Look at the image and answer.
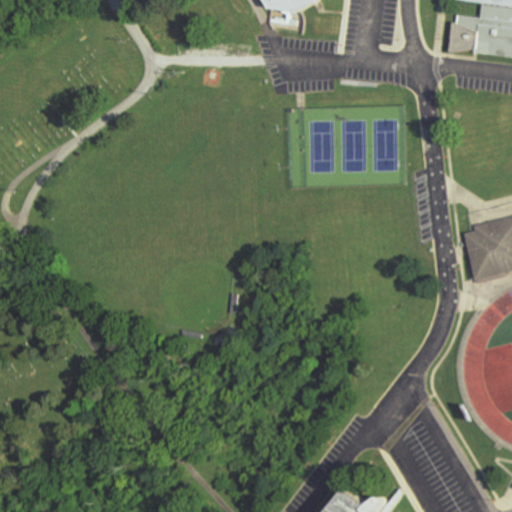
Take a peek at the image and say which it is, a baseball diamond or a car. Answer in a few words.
baseball diamond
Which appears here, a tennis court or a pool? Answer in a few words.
tennis court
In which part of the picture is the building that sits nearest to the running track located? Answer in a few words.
right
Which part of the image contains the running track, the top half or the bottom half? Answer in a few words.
bottom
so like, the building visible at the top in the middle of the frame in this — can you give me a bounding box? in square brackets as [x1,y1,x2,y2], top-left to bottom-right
[260,0,318,30]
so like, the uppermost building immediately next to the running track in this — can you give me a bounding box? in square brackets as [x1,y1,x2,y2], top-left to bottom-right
[461,214,512,282]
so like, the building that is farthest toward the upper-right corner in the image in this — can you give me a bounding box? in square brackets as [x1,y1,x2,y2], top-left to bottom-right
[450,0,512,59]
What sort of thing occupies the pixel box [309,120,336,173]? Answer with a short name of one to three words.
tennis court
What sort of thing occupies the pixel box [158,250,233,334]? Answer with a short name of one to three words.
baseball field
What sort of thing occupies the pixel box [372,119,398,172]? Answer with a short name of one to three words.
tennis court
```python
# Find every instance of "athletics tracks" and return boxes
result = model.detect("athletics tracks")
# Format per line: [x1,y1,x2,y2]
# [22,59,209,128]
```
[457,284,512,452]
